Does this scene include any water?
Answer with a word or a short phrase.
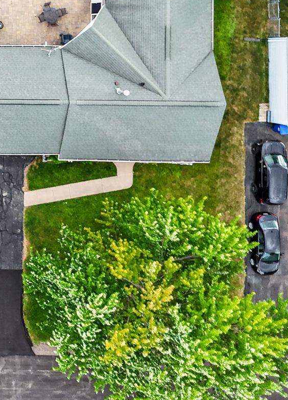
No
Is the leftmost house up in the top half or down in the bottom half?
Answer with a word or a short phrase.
top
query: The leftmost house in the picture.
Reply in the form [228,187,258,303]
[0,0,225,163]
